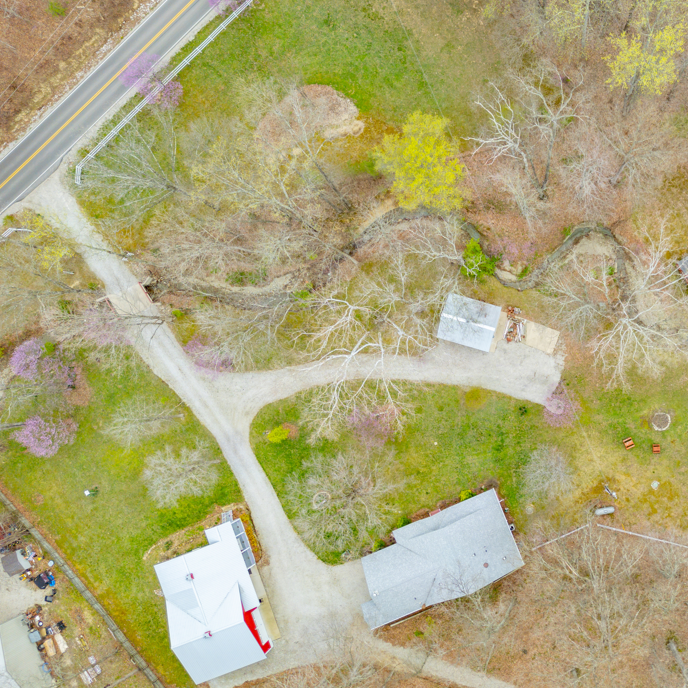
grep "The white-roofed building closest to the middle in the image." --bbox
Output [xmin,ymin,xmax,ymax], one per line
[438,293,502,353]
